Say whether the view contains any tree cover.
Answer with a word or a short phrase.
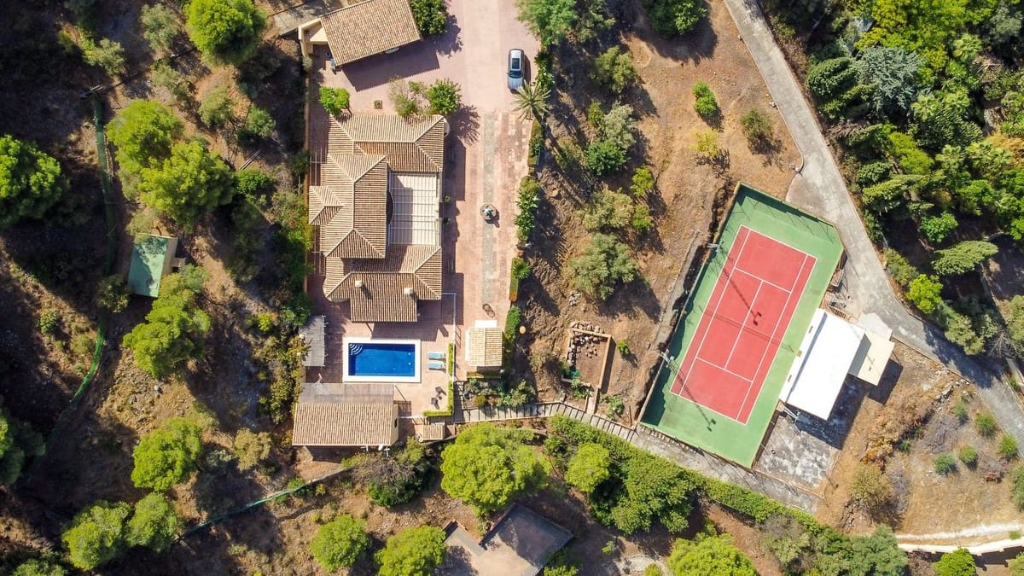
Yes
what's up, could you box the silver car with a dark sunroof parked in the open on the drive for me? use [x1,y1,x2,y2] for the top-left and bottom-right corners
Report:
[506,49,525,91]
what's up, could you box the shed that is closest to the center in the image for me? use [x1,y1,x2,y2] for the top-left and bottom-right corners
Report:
[464,320,503,372]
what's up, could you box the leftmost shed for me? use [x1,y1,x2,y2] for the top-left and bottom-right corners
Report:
[128,234,185,297]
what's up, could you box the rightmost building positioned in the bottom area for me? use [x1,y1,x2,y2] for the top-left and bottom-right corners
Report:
[768,308,895,419]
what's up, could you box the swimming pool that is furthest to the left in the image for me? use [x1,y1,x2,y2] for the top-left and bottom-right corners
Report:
[343,338,421,382]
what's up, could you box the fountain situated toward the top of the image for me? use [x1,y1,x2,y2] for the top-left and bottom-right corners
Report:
[481,205,498,222]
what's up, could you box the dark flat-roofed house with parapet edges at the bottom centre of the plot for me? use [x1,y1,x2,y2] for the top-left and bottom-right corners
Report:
[490,508,573,576]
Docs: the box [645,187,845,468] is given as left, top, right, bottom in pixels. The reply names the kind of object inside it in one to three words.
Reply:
tennis court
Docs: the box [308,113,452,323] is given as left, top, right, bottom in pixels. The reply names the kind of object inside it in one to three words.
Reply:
house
